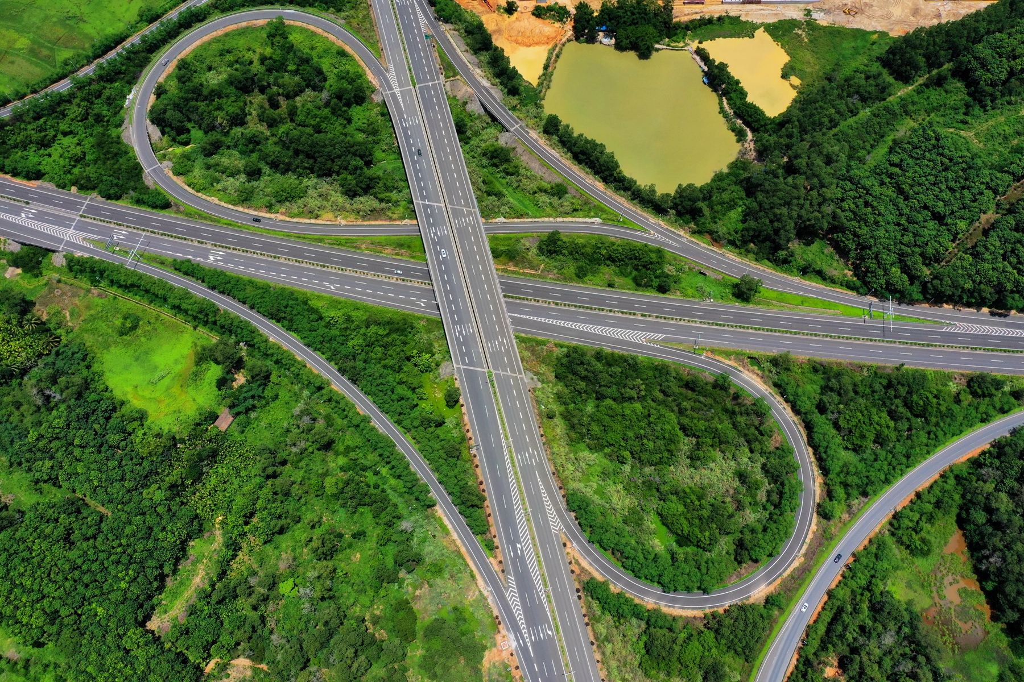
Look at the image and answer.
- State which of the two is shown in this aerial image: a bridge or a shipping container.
bridge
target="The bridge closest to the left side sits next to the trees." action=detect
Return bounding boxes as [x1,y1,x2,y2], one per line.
[17,186,89,250]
